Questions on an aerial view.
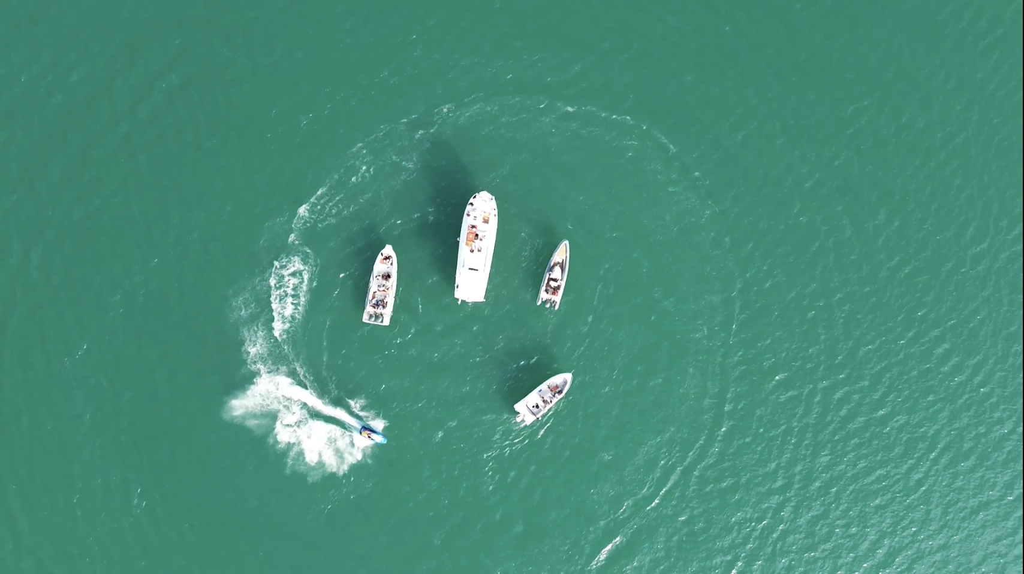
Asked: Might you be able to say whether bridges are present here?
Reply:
No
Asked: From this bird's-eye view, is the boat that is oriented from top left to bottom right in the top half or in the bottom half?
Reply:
bottom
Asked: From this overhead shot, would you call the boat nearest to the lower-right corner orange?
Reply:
No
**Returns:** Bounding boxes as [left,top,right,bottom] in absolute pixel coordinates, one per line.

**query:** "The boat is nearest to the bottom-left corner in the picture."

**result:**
[358,423,386,443]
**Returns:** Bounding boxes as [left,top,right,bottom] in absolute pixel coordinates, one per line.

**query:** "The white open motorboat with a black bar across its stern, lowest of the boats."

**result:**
[513,371,574,427]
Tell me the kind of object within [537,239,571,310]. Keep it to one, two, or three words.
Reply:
boat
